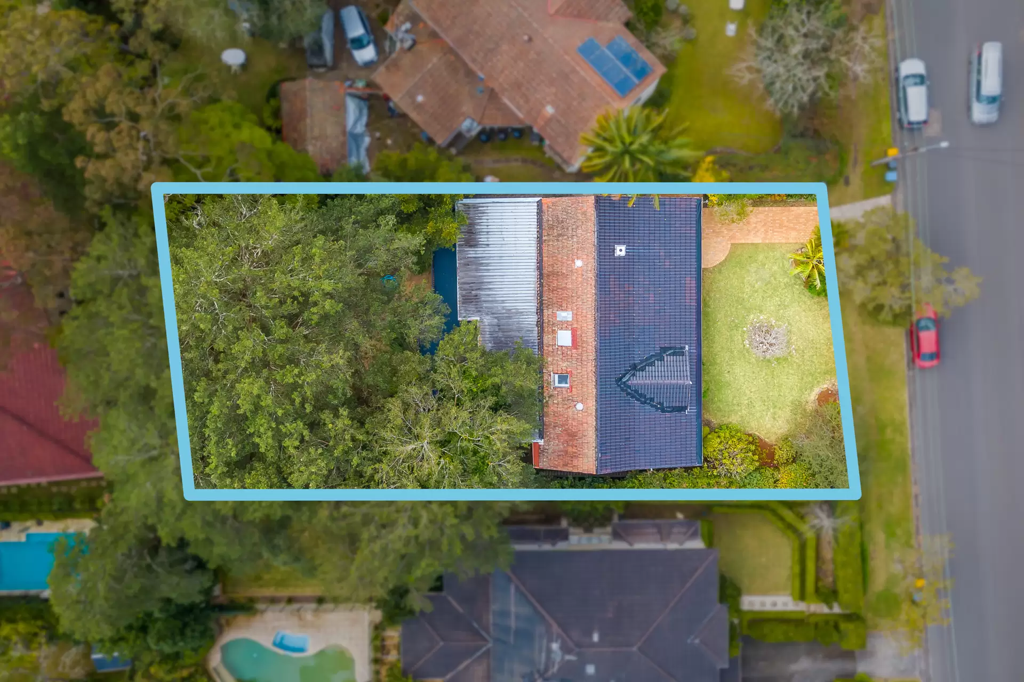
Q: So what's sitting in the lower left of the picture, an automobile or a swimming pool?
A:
swimming pool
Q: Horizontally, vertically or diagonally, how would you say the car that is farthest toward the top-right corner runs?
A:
vertically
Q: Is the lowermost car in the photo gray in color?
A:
No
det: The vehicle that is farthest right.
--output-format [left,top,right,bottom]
[967,44,1005,123]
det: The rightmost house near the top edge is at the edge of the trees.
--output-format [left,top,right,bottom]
[371,0,668,166]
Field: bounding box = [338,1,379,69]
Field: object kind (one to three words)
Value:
car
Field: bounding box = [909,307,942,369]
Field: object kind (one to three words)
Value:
car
